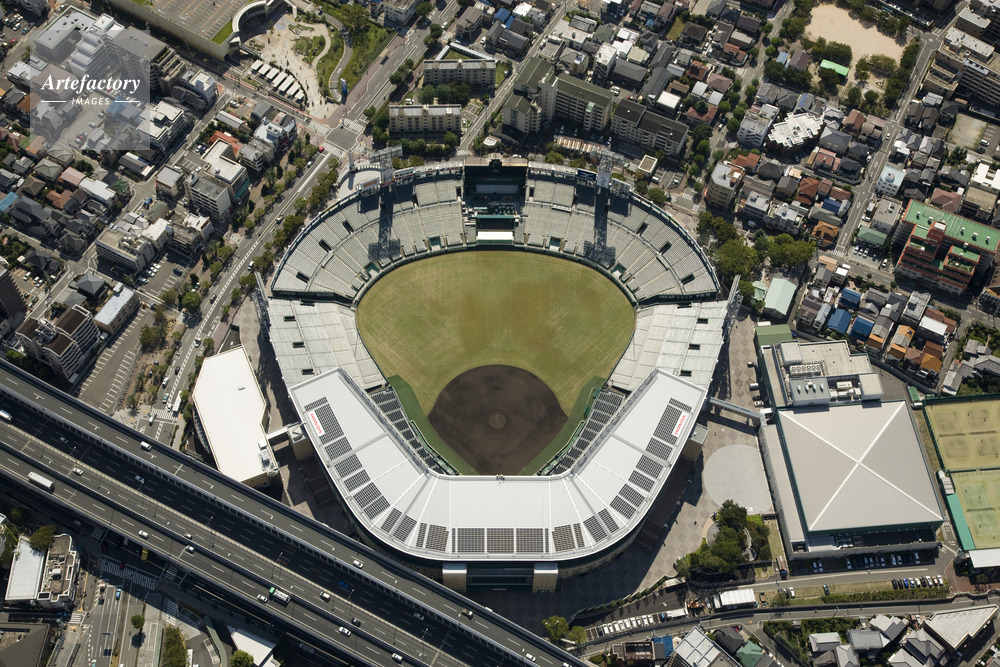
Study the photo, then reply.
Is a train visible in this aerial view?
No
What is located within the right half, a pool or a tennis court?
tennis court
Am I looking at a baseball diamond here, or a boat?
baseball diamond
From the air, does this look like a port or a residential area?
residential area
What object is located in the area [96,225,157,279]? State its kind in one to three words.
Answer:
building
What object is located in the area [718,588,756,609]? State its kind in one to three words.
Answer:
shed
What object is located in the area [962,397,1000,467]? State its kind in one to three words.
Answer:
tennis court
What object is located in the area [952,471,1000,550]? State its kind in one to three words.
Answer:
tennis court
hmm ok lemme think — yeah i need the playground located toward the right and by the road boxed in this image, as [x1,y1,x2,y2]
[806,5,903,84]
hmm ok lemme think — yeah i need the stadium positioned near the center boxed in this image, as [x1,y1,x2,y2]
[266,162,727,591]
